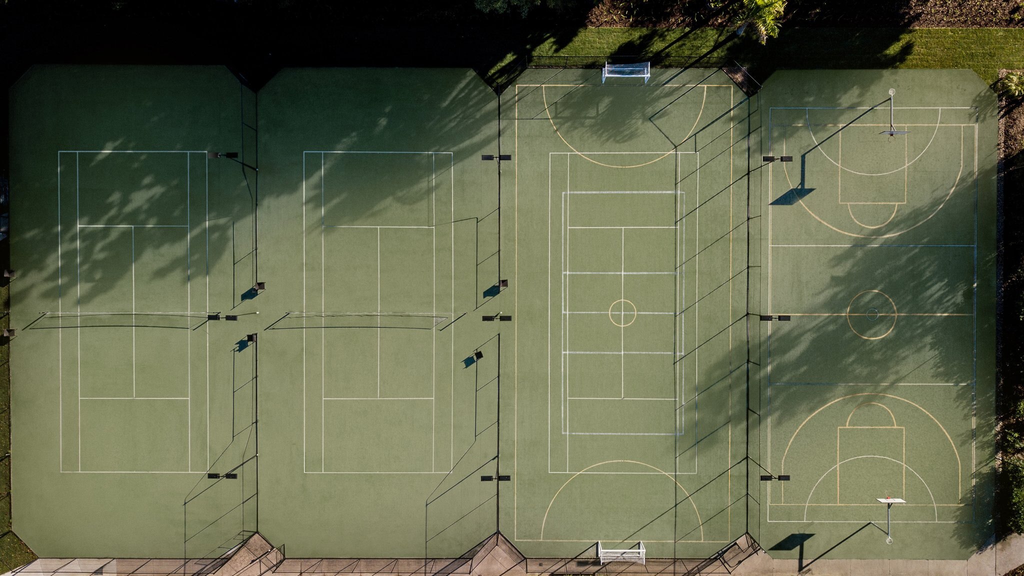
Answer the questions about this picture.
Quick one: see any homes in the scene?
No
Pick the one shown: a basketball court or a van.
basketball court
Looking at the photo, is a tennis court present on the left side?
Yes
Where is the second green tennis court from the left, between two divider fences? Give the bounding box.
[257,67,499,558]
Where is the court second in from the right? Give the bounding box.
[499,68,749,559]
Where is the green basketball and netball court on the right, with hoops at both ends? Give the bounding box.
[749,69,998,560]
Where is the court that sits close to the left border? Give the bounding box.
[10,65,257,559]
